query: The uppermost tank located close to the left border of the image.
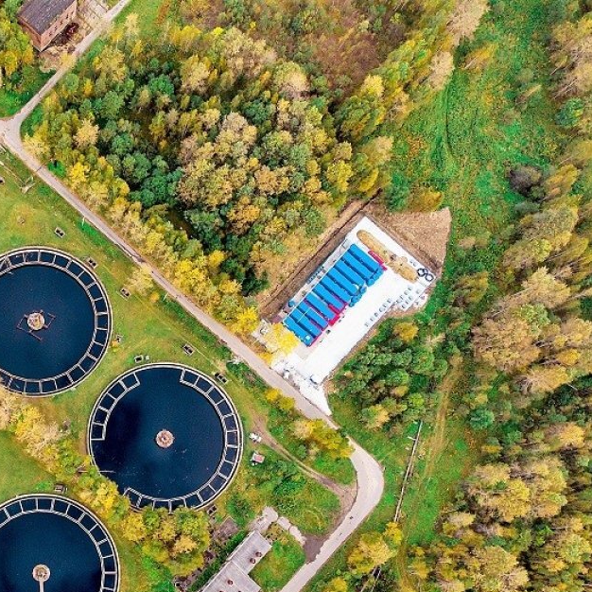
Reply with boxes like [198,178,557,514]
[0,246,114,399]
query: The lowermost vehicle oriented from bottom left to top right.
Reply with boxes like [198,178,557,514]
[306,369,325,387]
